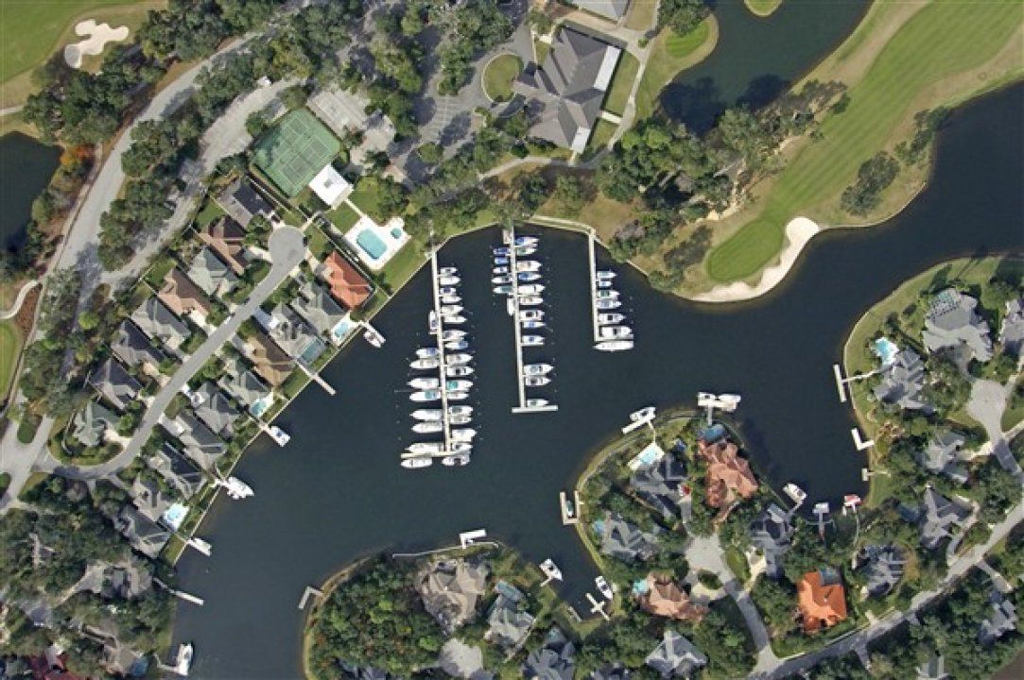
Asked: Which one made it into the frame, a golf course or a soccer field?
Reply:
golf course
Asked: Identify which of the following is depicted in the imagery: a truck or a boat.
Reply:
boat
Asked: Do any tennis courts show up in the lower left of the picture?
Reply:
No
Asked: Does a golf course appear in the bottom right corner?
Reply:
No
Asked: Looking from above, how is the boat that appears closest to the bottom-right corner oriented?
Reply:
at an angle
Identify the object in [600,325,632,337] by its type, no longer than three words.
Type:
boat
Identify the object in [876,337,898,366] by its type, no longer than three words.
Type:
swimming pool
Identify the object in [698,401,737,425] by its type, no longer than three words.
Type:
pier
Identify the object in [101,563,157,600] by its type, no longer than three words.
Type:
house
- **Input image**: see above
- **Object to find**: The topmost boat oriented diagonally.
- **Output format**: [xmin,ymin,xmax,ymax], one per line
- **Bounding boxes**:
[365,332,382,348]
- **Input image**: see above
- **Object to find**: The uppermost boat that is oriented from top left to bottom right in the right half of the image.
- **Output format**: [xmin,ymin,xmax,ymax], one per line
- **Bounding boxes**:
[783,481,806,501]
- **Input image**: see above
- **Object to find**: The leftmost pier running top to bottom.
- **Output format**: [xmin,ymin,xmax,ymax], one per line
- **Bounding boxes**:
[401,248,473,465]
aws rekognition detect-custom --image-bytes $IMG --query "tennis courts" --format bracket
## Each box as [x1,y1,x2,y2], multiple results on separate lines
[253,107,341,198]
